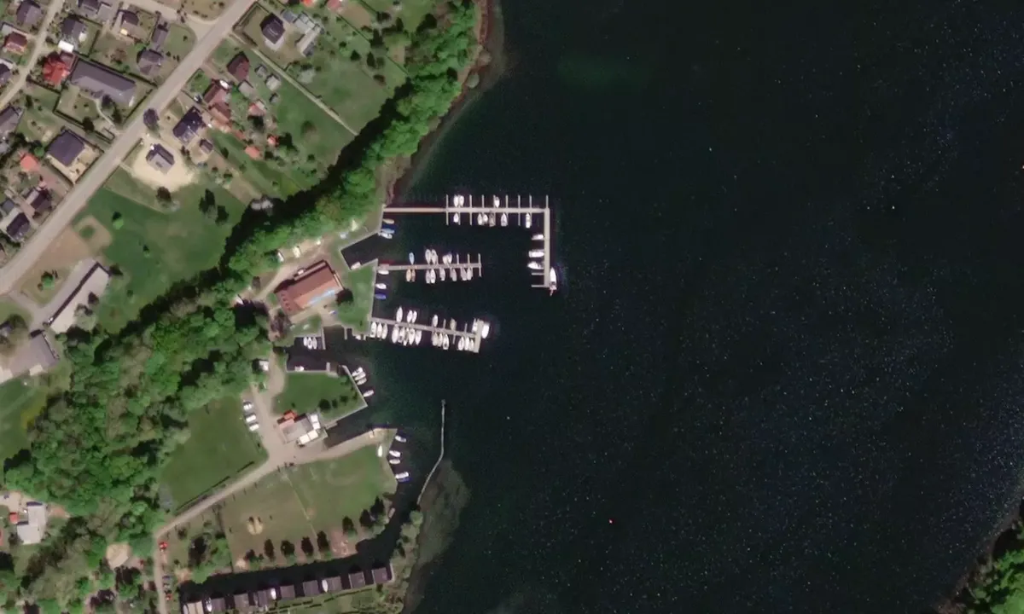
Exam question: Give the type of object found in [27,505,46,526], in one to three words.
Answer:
building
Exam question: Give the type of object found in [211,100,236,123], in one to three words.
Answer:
house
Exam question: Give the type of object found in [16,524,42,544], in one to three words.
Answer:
building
